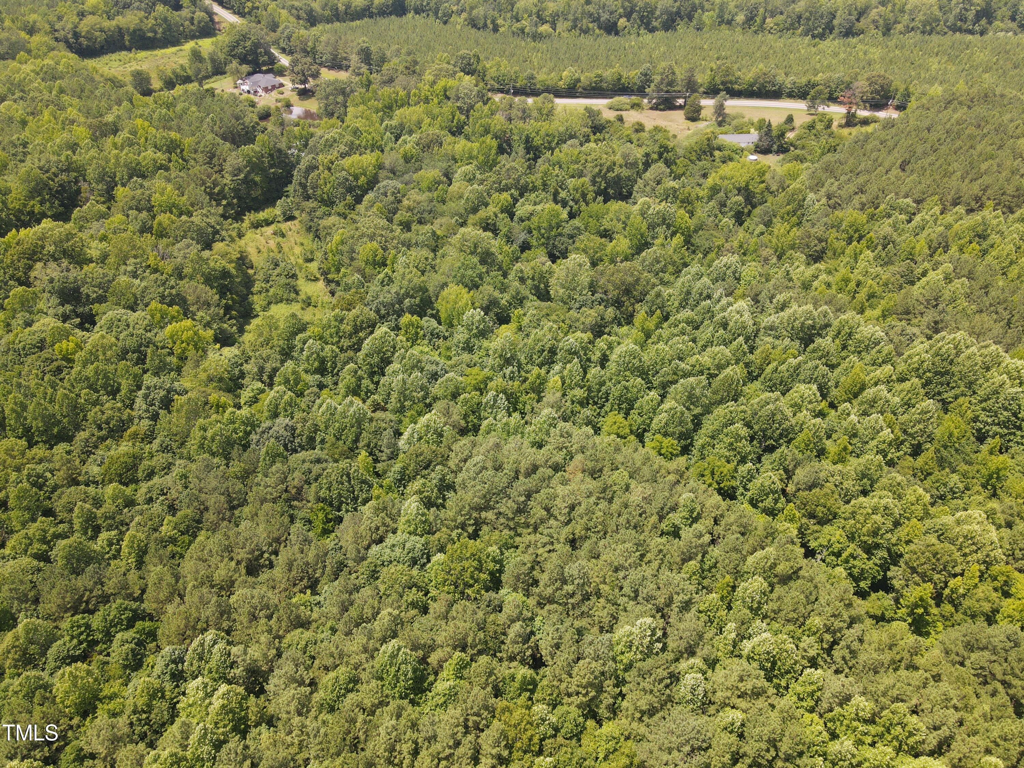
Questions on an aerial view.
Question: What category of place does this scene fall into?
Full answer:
What you see here is a forest.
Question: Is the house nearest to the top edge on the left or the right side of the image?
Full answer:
The house nearest to the top edge sits on the left side.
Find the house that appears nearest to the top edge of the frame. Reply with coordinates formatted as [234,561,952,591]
[243,69,284,94]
